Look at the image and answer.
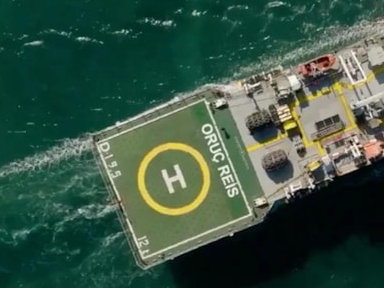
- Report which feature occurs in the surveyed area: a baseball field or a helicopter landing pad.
helicopter landing pad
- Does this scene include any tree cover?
No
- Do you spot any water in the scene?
Yes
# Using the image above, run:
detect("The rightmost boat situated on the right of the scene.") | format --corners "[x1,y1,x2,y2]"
[332,145,384,177]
